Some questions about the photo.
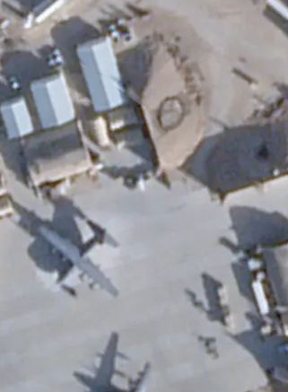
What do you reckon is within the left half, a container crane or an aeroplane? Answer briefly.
aeroplane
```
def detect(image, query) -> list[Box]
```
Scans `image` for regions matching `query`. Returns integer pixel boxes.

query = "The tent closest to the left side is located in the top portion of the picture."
[93,115,113,147]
